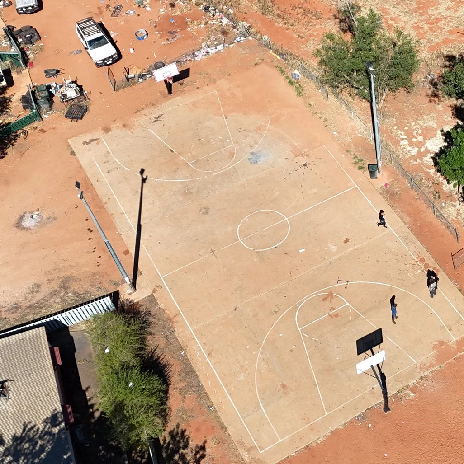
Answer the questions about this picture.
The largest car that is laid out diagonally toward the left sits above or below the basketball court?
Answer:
above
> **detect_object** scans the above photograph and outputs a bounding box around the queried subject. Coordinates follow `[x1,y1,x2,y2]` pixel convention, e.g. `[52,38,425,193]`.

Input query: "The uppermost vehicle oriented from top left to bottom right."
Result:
[76,17,118,68]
